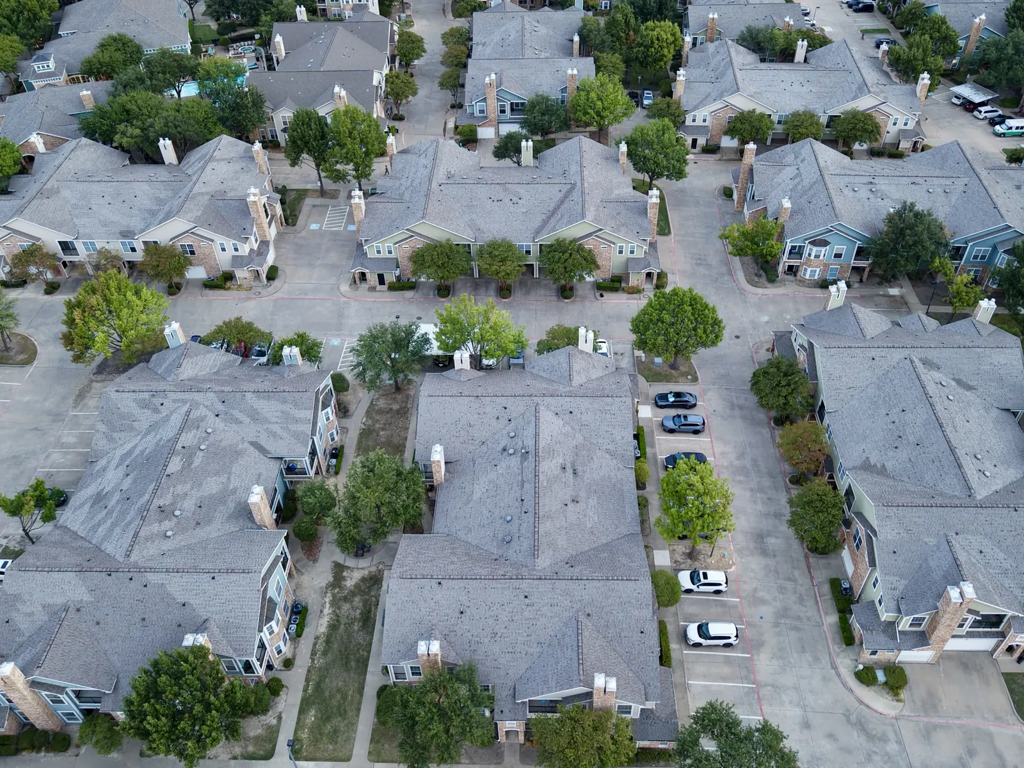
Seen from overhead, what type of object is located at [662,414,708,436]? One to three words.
car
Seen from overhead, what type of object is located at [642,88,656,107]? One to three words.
car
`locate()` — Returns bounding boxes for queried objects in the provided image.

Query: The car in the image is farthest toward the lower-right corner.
[686,623,744,653]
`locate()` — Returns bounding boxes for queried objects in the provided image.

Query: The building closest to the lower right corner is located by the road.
[771,284,1024,663]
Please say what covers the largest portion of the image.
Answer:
buildings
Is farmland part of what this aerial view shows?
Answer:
No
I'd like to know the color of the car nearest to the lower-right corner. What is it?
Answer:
white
